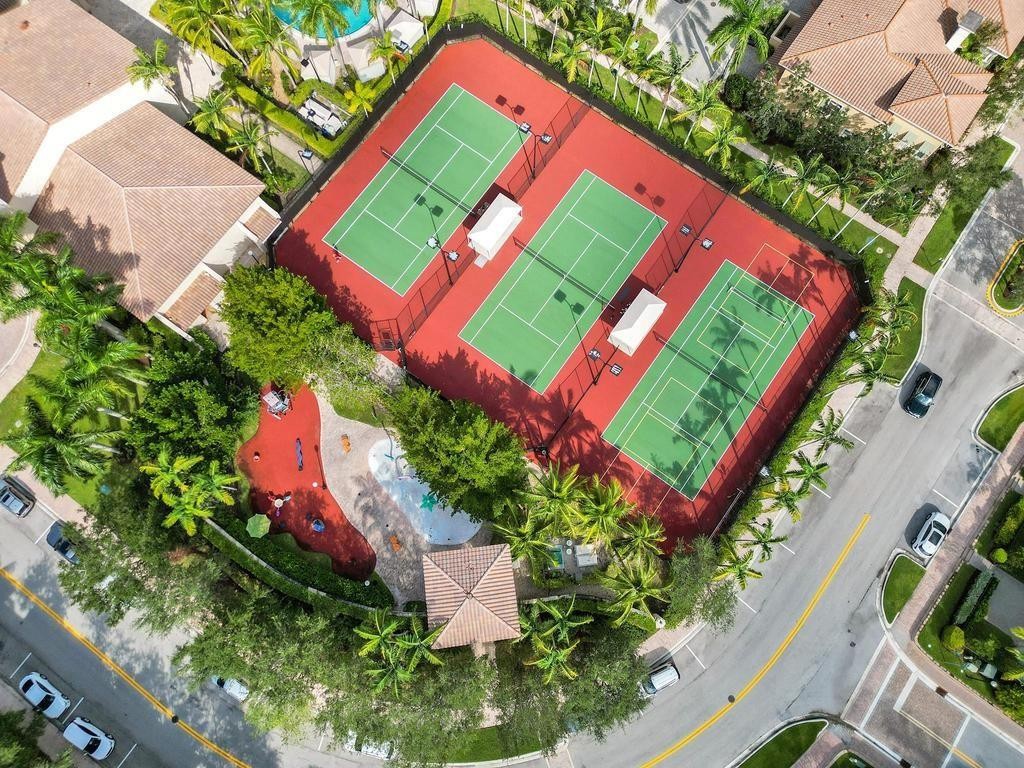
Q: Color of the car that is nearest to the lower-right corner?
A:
white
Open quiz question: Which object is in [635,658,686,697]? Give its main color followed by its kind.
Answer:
white car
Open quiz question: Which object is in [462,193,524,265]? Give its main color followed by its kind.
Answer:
white tent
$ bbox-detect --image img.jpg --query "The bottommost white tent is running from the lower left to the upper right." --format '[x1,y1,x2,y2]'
[605,288,668,361]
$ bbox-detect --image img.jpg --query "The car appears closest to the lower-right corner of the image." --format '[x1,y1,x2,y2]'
[911,513,952,561]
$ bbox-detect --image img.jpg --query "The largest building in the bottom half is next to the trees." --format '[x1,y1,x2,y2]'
[422,543,521,648]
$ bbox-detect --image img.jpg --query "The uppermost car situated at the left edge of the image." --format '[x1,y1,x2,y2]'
[0,475,38,516]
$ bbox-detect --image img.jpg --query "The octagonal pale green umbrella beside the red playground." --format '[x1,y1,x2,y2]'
[247,512,273,539]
